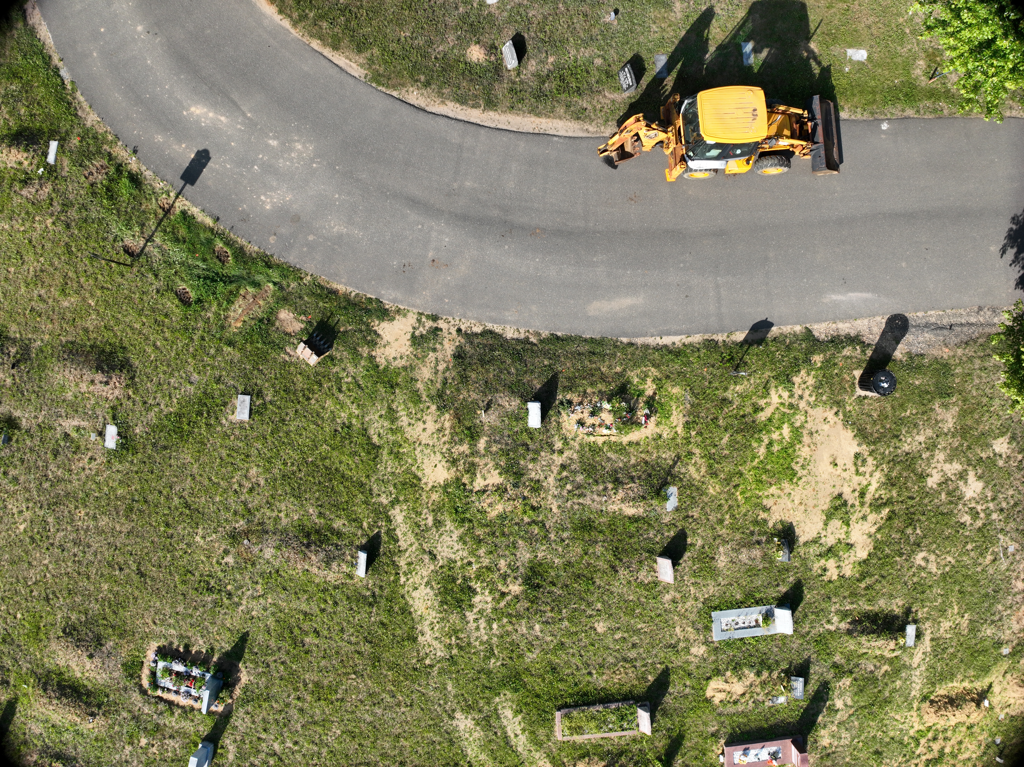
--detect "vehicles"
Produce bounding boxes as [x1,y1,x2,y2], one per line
[596,85,840,189]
